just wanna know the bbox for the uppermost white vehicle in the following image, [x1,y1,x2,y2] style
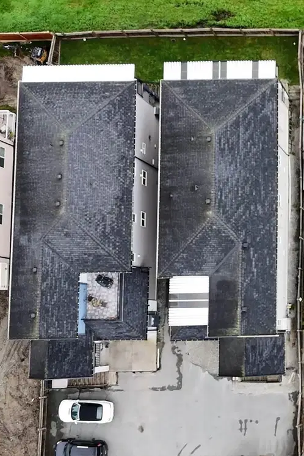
[59,396,117,426]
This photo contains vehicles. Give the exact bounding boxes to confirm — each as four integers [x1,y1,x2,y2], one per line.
[55,438,110,456]
[59,396,117,426]
[11,44,53,64]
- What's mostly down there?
buildings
